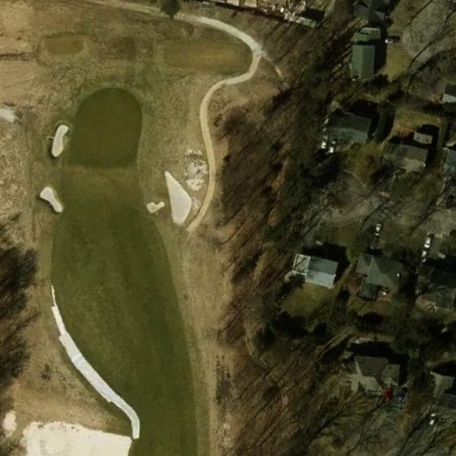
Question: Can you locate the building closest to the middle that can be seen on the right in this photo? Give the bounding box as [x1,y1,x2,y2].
[293,253,339,287]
